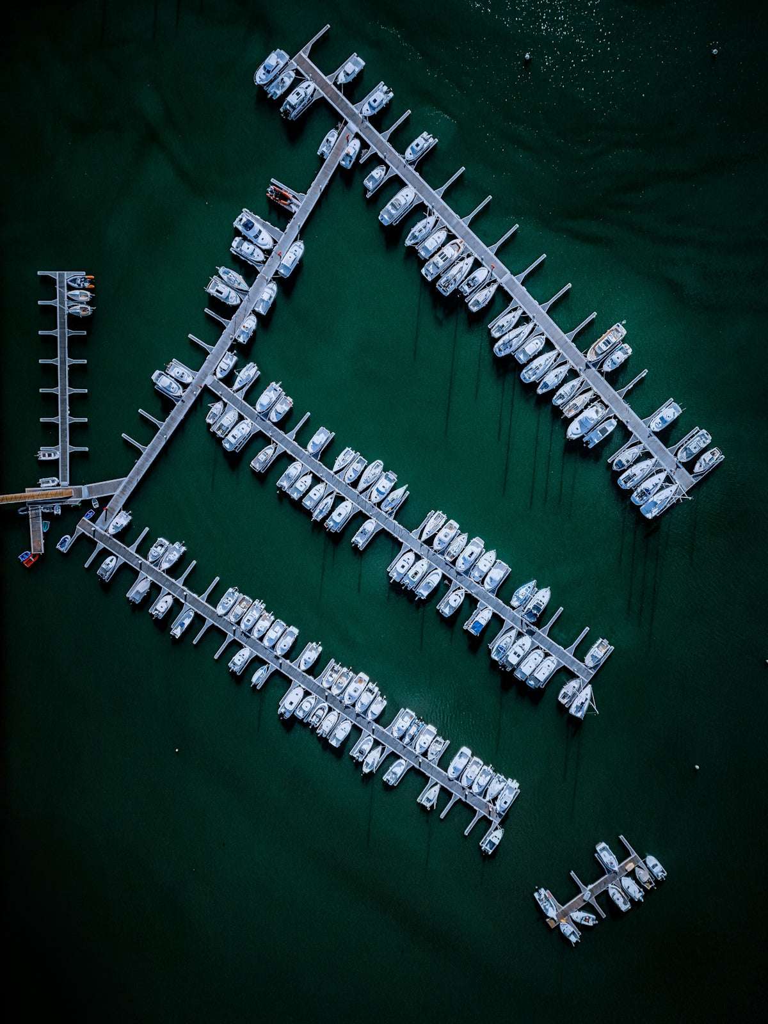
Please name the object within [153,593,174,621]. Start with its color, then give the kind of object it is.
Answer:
white boat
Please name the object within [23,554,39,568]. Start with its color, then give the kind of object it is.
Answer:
red boat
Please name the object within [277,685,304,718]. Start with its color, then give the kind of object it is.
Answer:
white boat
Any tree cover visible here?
No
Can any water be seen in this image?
Yes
